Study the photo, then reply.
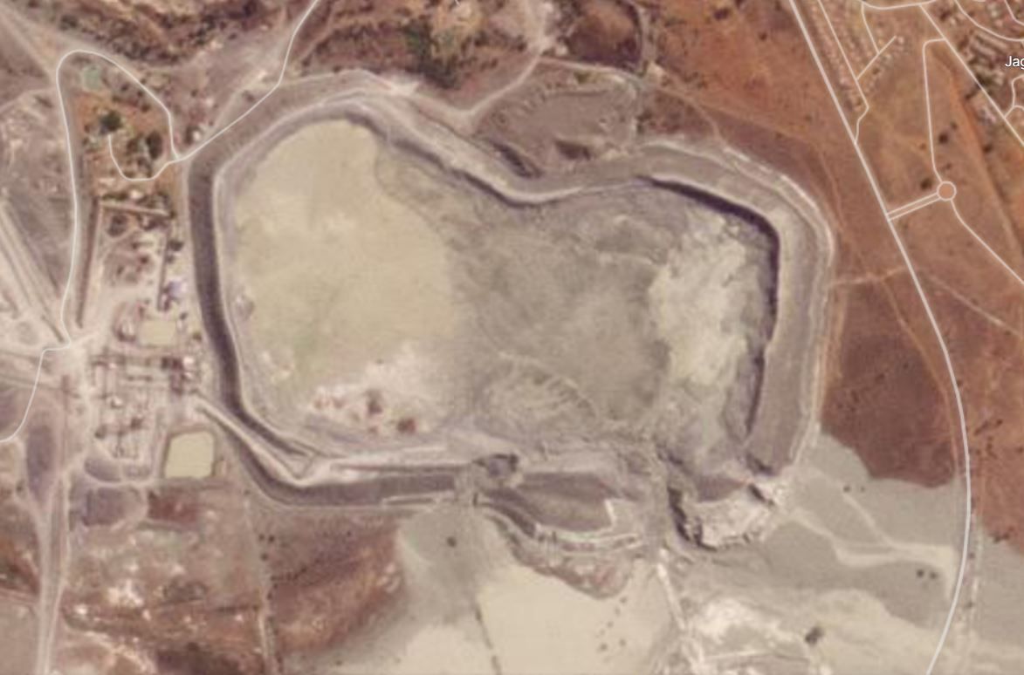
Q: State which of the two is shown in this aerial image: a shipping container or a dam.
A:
dam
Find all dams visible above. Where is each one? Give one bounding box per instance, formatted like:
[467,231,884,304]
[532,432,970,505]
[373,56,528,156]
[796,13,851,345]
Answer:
[188,73,835,508]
